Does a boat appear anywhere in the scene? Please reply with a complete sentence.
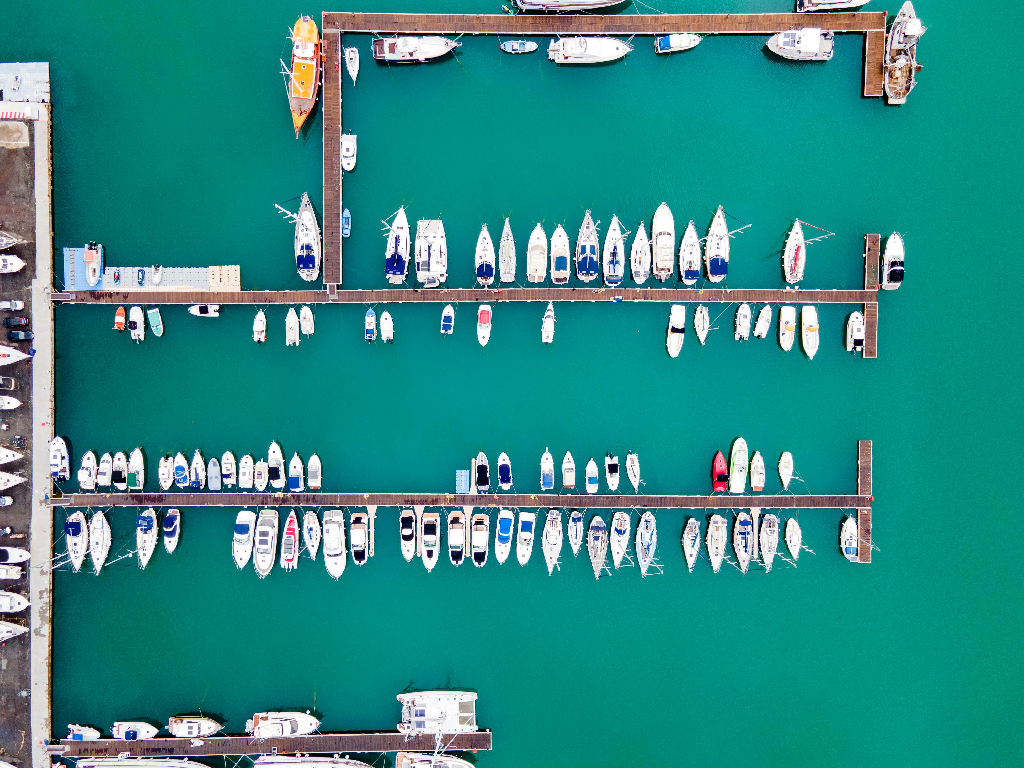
Yes, the photo shows a boat.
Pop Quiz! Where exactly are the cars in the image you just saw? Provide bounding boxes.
[0,299,26,311]
[0,496,16,507]
[7,330,36,341]
[4,316,30,328]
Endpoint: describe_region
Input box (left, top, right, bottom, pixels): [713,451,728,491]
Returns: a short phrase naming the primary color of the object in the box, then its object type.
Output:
red boat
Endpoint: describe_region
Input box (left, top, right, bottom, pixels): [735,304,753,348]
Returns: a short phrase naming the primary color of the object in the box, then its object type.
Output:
white boat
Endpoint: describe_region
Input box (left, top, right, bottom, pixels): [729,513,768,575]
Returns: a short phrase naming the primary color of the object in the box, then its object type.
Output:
white boat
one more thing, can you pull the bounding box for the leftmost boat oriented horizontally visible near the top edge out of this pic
[373,33,461,64]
